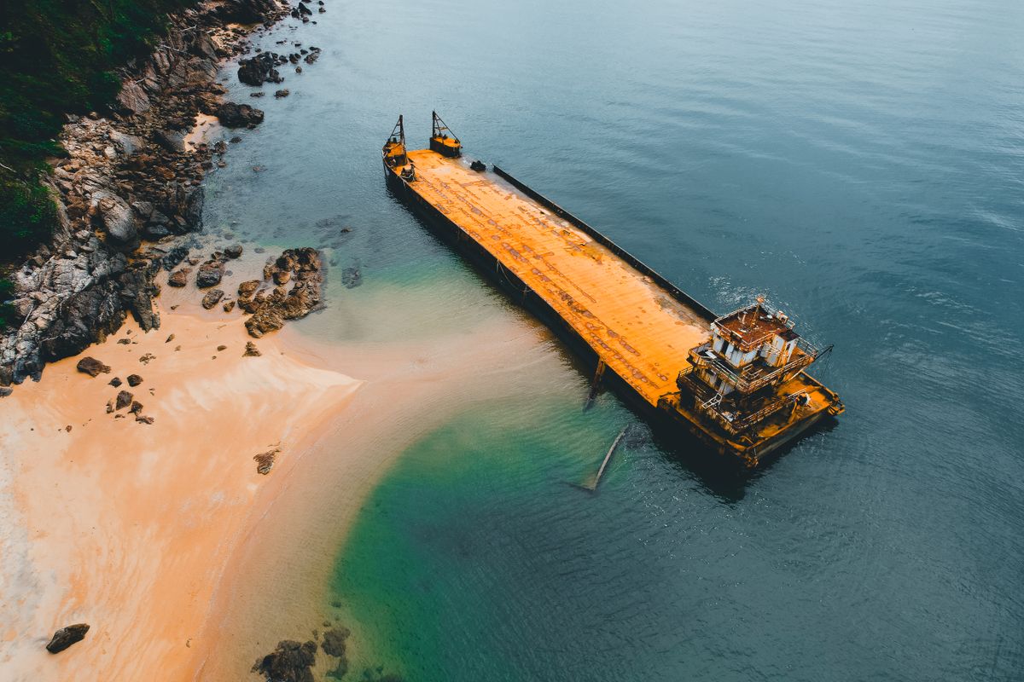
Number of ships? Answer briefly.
1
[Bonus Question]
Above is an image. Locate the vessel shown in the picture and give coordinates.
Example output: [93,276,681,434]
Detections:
[380,104,850,477]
